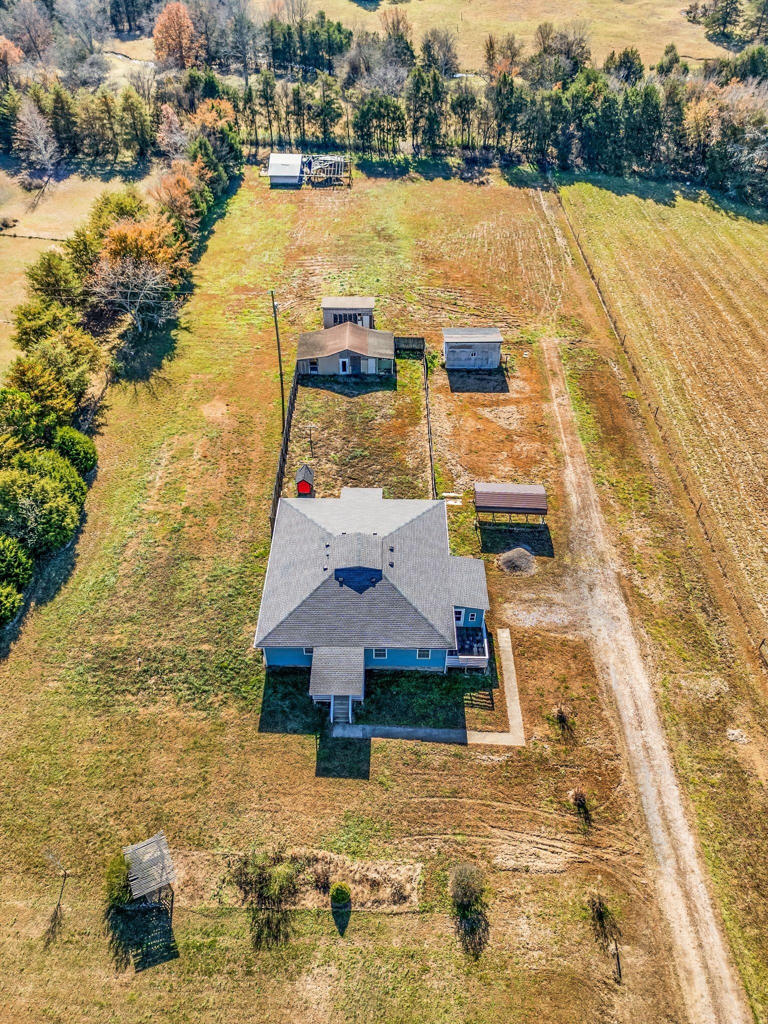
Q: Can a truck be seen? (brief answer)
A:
No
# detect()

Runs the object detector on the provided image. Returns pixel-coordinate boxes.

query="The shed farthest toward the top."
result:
[267,156,304,186]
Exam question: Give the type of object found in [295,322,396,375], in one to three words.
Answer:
barn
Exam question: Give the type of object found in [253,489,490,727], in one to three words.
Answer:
house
